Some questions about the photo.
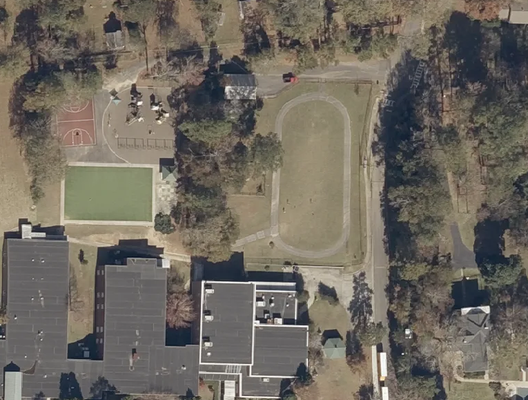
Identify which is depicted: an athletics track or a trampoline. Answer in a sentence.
Of the two, only an athletics track appears.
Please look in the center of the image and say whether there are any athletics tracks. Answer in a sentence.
Yes, I can see an athletics track in the center of the image.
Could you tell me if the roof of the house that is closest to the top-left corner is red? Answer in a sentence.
No, the color of the roof of the house that is closest to the top-left corner is gray.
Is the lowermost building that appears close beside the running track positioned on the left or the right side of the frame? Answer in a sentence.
You can find the lowermost building that appears close beside the running track on the left side of the picture.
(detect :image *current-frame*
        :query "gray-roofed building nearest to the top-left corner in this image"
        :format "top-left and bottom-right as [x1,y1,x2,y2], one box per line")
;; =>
[103,29,123,50]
